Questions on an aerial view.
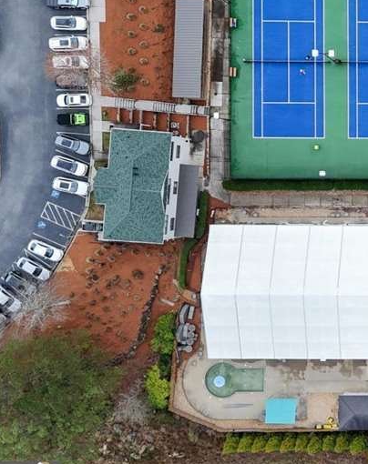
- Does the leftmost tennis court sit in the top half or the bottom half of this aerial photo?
top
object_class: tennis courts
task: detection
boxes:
[336,0,368,179]
[230,0,336,179]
